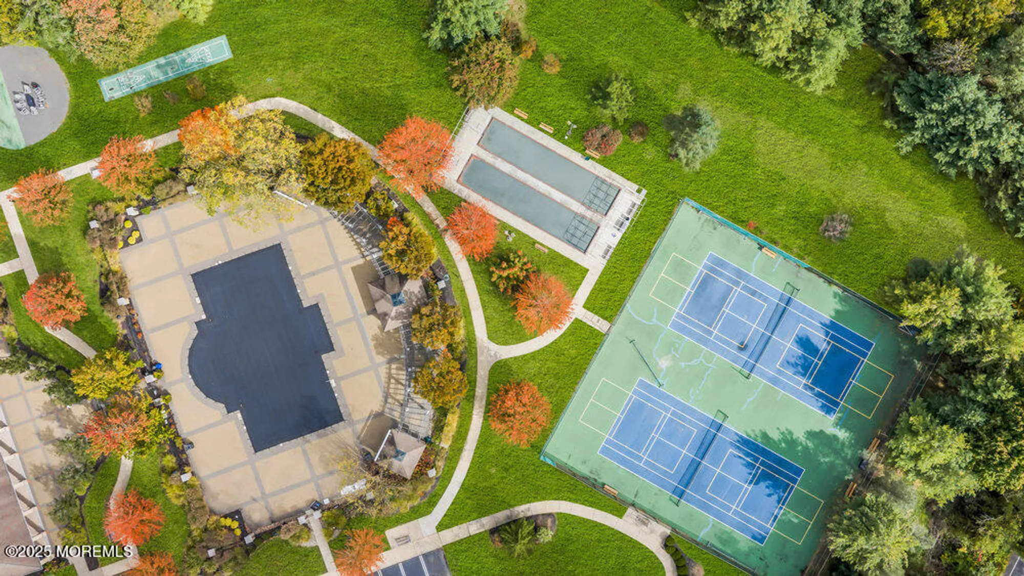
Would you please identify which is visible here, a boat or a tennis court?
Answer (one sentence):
I can see a tennis court in this picture.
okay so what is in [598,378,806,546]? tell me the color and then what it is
blue tennis court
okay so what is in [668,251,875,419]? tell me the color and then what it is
blue tennis court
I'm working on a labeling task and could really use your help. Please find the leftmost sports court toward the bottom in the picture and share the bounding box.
[580,379,697,474]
